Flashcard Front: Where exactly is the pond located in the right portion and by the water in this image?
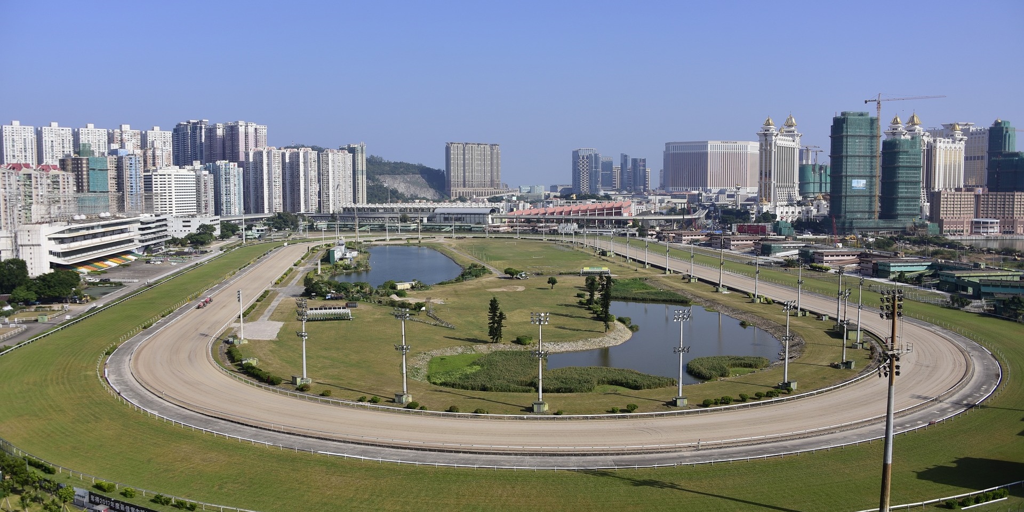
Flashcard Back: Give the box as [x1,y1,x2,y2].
[540,281,783,388]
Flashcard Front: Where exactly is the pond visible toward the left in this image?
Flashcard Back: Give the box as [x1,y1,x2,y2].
[329,245,463,289]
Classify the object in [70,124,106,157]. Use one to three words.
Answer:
building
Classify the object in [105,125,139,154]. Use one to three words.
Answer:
building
